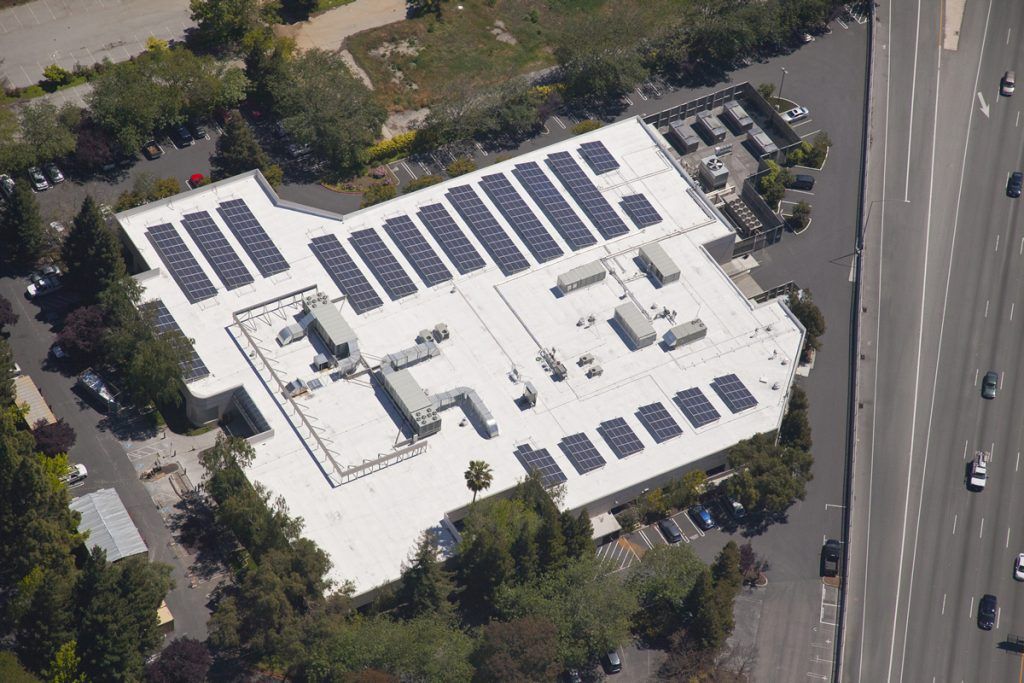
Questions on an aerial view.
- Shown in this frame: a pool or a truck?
truck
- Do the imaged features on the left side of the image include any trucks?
Yes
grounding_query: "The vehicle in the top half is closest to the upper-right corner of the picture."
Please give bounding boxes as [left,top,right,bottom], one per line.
[1002,69,1017,96]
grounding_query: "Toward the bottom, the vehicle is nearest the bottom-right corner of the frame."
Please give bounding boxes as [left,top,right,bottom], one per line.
[978,596,996,629]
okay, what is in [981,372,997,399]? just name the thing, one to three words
car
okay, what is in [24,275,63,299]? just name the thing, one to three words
truck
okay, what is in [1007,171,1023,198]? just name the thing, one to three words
car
